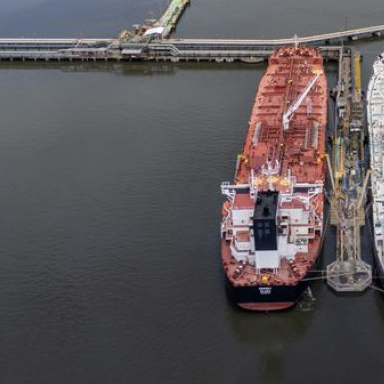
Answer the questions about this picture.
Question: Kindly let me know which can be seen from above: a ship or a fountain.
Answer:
ship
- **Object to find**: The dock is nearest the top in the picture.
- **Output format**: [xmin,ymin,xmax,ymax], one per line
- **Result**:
[151,0,191,38]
